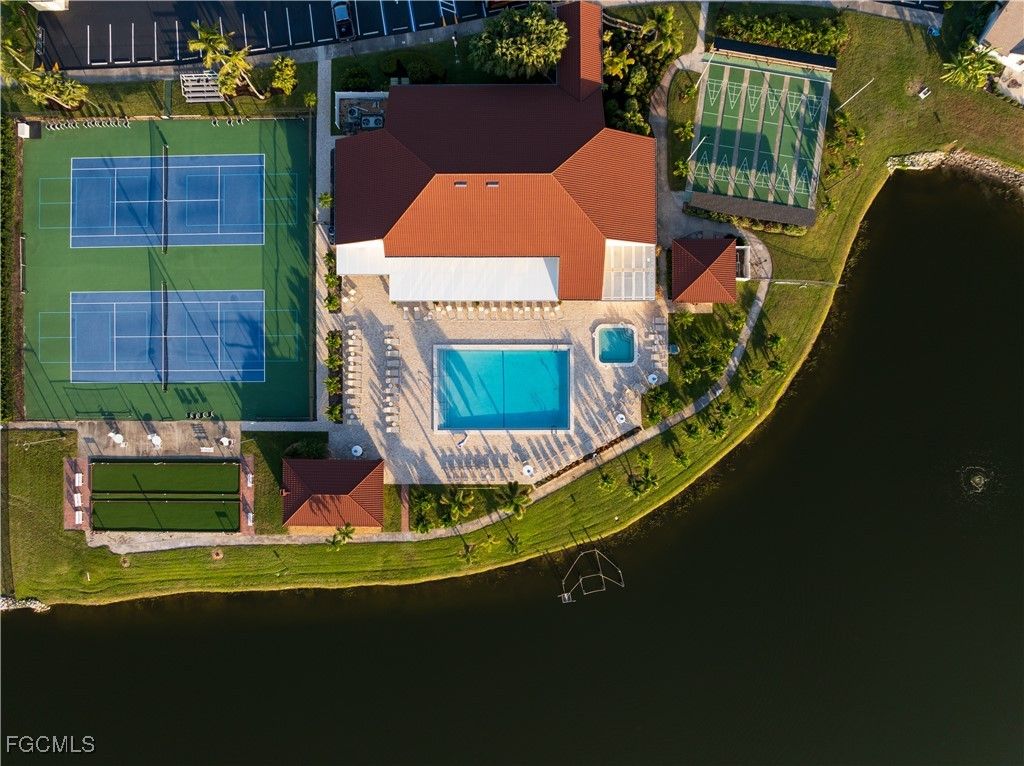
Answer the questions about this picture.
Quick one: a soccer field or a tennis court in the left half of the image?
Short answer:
tennis court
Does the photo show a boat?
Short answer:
No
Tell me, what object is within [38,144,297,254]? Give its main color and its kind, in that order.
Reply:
blue tennis court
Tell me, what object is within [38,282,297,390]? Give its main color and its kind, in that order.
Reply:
blue tennis court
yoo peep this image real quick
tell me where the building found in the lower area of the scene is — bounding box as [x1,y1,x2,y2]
[282,459,385,526]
